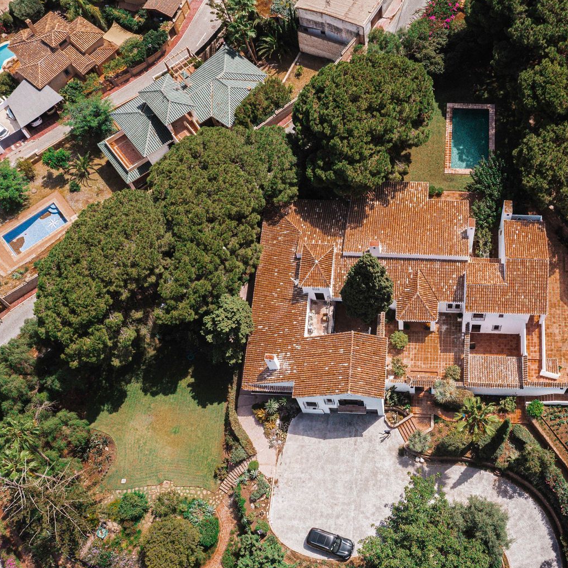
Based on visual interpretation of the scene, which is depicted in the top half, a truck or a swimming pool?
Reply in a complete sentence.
The one visible in the top half is a swimming pool.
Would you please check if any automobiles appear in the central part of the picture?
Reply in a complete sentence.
No, no automobile can be made out in the central part of the picture.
